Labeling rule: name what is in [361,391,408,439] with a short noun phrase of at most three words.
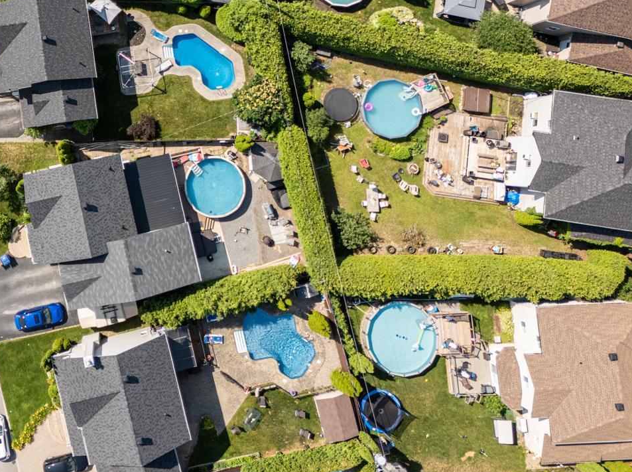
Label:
trampoline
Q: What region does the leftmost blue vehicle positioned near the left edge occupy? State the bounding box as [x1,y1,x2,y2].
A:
[15,302,64,329]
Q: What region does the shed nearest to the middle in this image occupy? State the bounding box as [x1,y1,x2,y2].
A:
[246,143,285,183]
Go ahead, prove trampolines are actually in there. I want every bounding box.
[361,391,408,439]
[321,87,358,123]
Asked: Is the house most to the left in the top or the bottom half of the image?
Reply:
top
